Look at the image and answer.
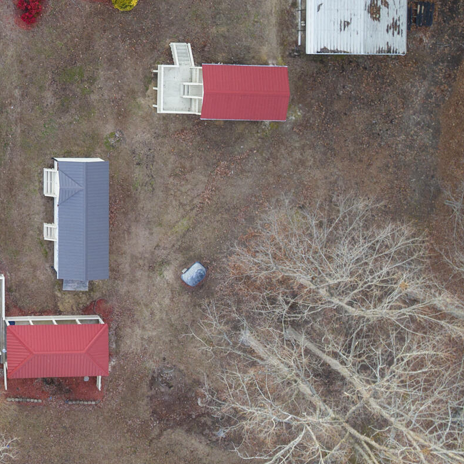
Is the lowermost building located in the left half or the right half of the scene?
left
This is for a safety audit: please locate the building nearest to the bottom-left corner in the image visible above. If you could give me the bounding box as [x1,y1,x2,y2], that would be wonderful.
[2,306,110,391]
